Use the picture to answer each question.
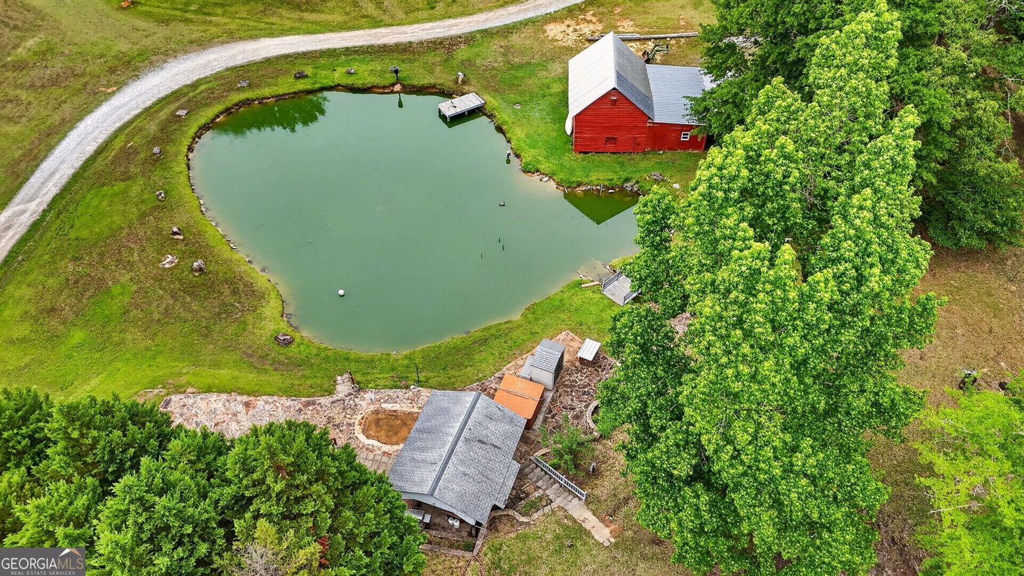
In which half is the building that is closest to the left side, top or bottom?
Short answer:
bottom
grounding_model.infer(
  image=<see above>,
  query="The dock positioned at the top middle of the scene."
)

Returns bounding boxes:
[438,92,485,124]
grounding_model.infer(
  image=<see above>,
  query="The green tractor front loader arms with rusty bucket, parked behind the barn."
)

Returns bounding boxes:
[637,39,674,60]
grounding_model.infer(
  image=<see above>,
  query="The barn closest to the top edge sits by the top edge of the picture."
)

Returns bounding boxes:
[570,28,717,155]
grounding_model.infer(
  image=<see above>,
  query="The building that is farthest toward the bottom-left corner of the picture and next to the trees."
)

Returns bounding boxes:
[381,391,528,549]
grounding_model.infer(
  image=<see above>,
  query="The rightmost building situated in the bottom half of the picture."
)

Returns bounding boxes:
[577,338,601,370]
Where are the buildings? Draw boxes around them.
[577,338,601,370]
[570,28,717,155]
[381,391,528,549]
[529,341,565,388]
